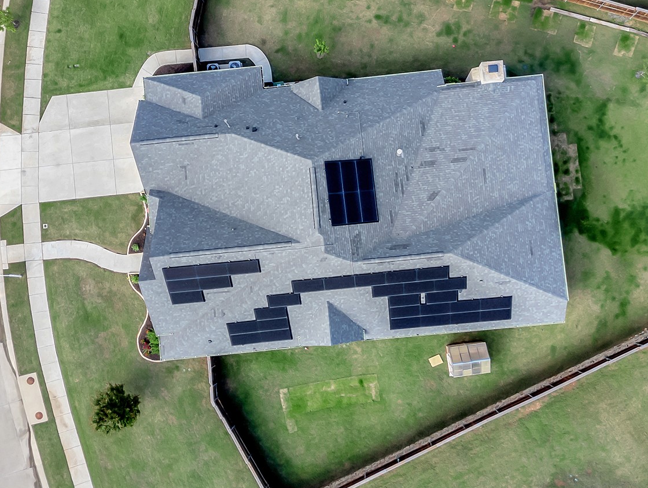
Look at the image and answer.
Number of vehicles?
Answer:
0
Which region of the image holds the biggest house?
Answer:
center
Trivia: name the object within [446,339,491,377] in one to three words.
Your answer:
greenhouse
